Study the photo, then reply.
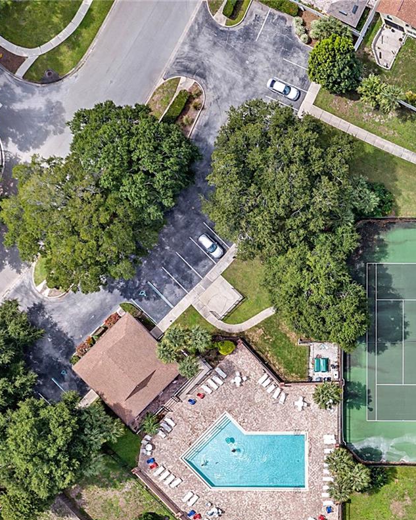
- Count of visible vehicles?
2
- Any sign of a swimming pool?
Yes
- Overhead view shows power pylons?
No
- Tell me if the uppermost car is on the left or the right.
right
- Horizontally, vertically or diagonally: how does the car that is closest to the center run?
diagonally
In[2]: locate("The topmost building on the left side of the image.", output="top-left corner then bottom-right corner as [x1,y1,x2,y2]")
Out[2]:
[73,314,181,426]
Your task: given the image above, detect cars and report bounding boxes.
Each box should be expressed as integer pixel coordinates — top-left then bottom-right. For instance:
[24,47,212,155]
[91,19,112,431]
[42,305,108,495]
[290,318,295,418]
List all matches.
[268,78,300,102]
[197,233,224,259]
